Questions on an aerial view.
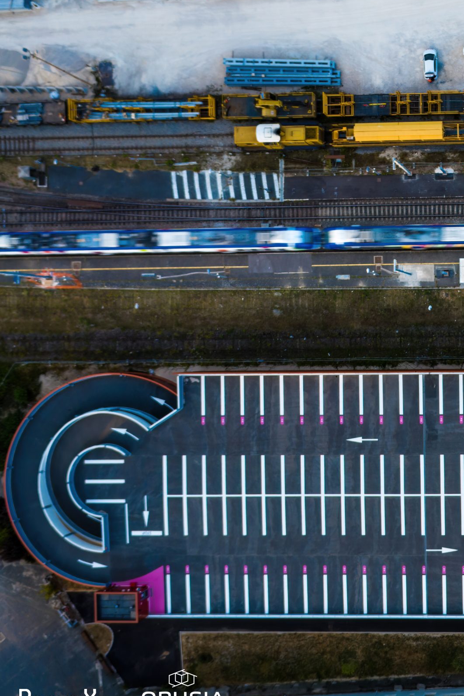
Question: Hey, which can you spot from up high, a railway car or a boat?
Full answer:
I can see a railway car in this picture.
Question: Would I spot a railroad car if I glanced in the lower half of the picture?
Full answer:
No, looking in the lower half of the picture, there is no railroad car.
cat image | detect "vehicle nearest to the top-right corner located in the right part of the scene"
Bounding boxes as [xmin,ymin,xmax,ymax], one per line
[421,48,439,82]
